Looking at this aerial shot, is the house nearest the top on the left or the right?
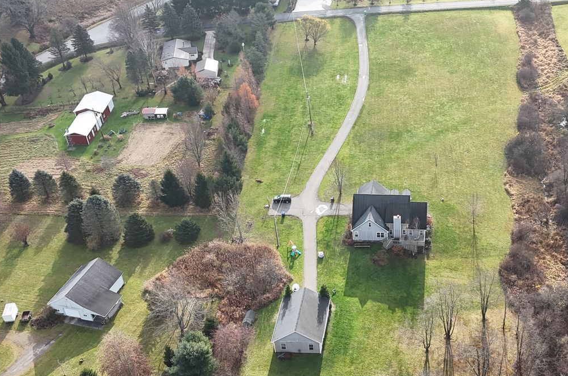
left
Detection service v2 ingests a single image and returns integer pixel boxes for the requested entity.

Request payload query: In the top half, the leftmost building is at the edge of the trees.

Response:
[60,88,117,145]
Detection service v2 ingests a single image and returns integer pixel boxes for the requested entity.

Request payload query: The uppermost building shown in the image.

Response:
[162,38,198,68]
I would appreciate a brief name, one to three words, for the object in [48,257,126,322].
barn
